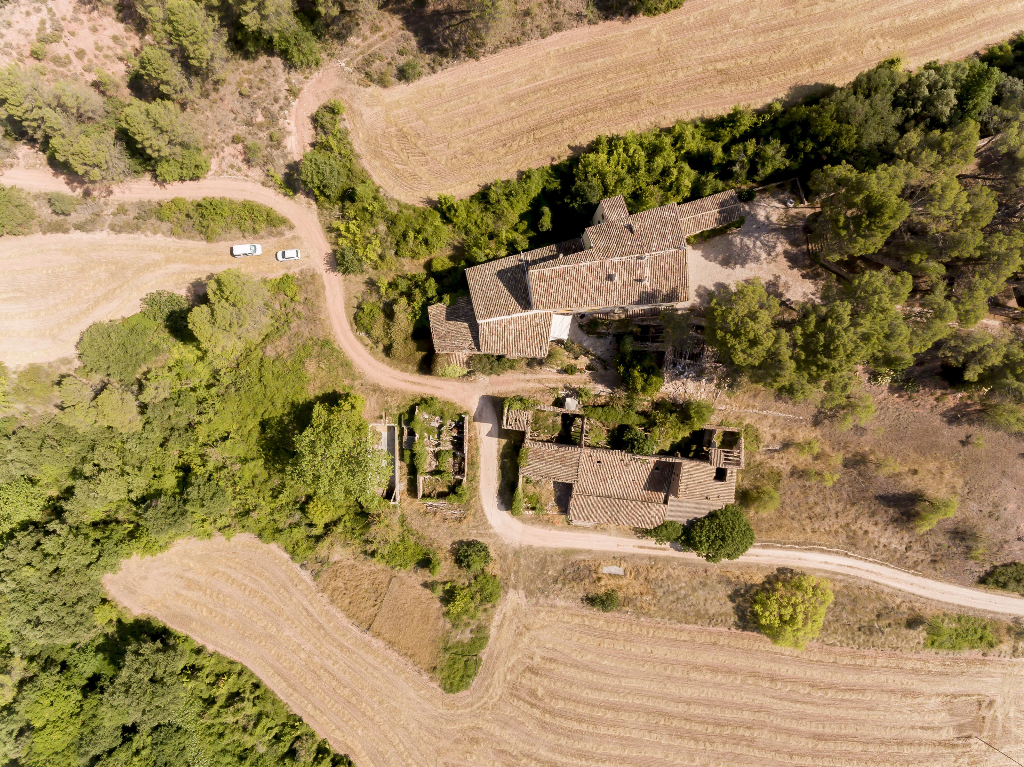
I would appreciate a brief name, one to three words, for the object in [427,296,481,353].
shed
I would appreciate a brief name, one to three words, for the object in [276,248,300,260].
vehicle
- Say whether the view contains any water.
No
